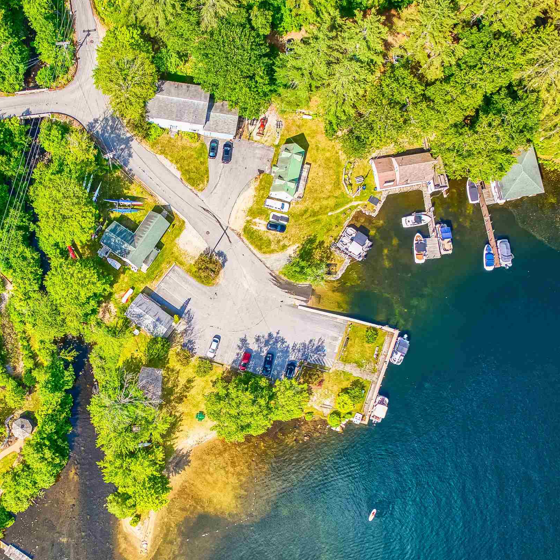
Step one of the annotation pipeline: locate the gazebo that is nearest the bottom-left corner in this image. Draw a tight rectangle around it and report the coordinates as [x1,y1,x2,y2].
[13,419,32,438]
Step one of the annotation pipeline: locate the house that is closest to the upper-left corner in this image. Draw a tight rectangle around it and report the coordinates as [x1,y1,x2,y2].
[146,78,209,137]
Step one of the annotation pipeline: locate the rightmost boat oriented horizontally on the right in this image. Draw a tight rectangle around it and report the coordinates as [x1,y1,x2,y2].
[398,213,431,229]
